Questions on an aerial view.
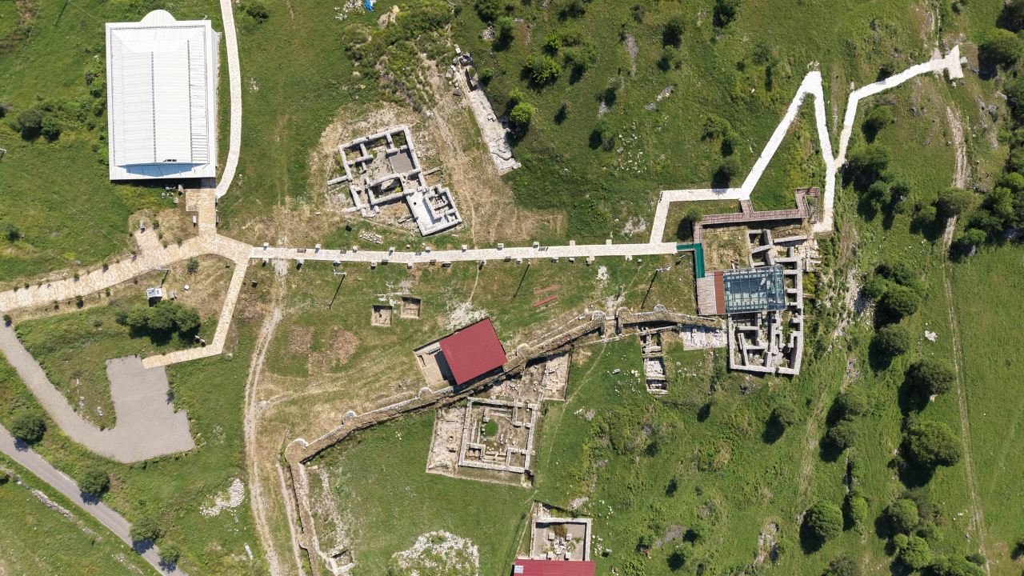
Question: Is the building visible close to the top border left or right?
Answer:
left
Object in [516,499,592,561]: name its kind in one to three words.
building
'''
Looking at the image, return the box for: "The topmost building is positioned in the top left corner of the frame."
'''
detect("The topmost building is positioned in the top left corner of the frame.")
[106,9,222,188]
